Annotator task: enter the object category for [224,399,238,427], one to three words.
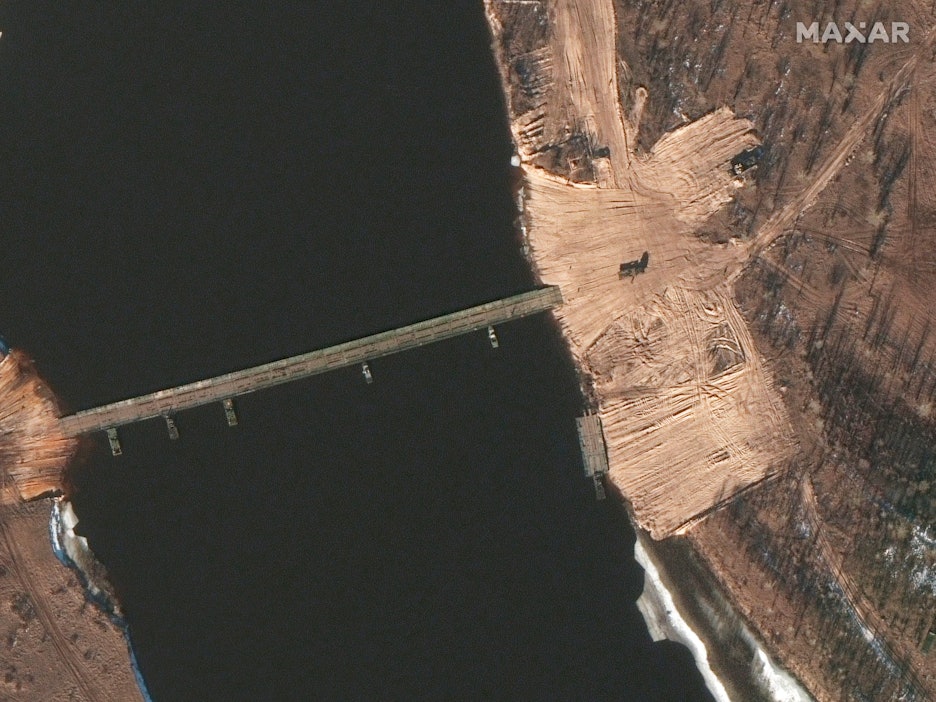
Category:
boat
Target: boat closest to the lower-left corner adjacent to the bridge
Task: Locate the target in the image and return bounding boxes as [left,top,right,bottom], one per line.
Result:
[106,428,121,456]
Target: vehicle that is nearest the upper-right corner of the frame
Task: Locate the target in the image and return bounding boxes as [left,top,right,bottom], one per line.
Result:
[730,149,763,173]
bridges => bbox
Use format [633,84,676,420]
[56,284,569,437]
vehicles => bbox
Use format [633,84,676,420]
[730,149,763,173]
[617,265,645,282]
[596,152,610,158]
